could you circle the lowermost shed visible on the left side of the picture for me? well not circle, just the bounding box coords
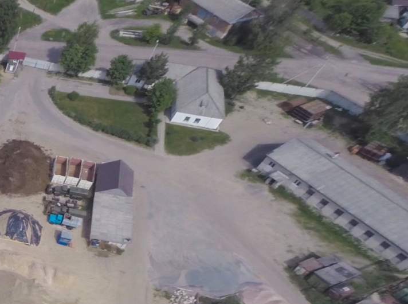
[86,195,134,257]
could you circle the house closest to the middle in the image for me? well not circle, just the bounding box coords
[168,65,226,127]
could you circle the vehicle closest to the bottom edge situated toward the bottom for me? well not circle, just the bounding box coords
[56,231,73,254]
